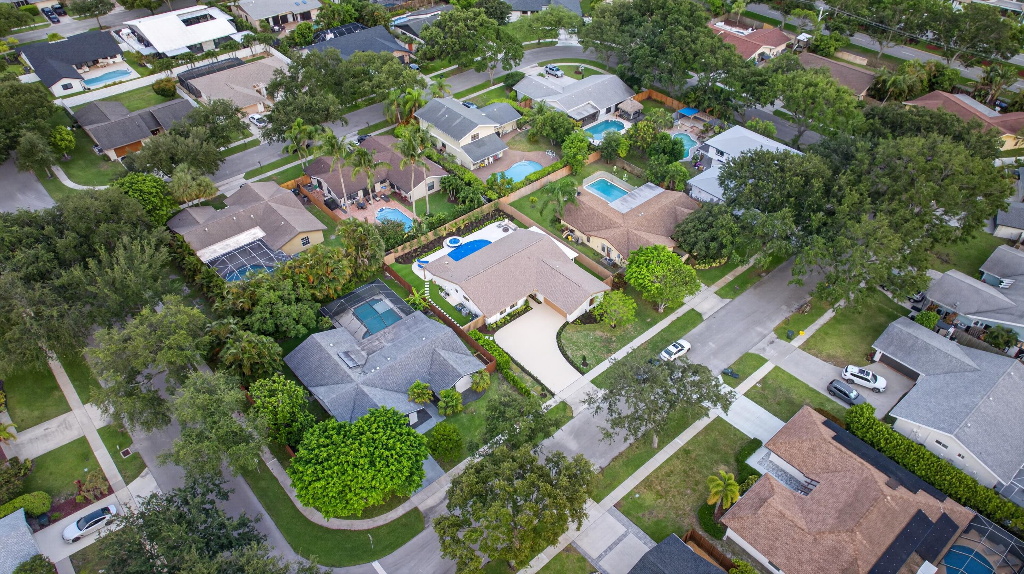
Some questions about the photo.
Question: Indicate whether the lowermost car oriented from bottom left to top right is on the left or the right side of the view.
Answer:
left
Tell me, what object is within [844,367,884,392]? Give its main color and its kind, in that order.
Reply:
white car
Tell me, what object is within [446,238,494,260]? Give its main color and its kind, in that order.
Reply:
blue swimming pool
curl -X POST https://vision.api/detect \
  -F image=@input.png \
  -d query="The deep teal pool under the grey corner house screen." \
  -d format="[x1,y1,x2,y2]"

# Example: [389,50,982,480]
[351,298,404,340]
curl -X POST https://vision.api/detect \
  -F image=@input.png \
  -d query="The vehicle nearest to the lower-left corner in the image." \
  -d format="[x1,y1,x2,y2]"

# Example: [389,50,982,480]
[64,504,115,544]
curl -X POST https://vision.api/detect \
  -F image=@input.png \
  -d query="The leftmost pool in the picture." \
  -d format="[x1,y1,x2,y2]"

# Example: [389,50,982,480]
[82,69,133,87]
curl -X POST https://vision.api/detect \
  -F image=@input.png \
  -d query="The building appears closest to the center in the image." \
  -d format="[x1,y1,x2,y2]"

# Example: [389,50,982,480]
[424,227,612,327]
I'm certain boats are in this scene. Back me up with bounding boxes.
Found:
[118,26,137,41]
